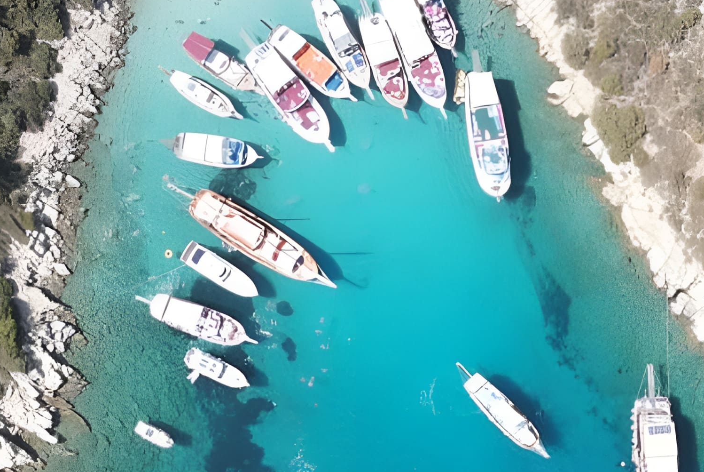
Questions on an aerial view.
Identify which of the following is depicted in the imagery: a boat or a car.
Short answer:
boat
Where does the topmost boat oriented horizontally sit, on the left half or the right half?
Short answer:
left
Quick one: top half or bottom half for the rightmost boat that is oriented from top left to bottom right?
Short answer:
bottom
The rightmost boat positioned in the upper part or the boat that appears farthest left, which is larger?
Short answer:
the rightmost boat positioned in the upper part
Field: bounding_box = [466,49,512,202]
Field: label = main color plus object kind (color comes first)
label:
white boat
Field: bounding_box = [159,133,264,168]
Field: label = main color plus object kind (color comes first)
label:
white boat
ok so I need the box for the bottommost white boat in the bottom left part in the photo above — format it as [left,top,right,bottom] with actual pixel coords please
[133,420,173,446]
